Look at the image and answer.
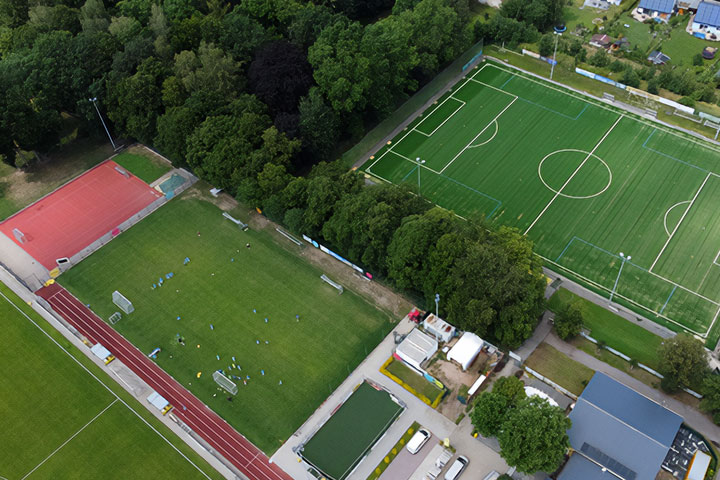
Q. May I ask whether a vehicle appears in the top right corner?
No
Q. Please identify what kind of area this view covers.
sports ground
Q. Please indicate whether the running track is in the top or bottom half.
bottom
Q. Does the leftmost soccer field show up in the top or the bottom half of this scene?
bottom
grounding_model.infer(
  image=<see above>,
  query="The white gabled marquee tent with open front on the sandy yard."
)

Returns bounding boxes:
[445,332,485,373]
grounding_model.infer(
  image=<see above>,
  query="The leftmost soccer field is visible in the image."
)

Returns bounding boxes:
[0,280,226,480]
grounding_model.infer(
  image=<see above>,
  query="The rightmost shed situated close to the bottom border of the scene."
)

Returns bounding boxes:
[682,450,713,480]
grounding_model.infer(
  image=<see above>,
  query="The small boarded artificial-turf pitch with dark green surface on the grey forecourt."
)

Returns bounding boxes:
[303,375,404,480]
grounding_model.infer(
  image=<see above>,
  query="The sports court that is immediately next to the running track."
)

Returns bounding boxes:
[0,157,165,271]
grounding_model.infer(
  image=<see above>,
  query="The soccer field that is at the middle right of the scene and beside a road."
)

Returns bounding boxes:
[356,59,720,354]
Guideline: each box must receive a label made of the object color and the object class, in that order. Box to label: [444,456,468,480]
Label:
white car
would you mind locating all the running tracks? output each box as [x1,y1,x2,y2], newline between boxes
[35,283,295,480]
